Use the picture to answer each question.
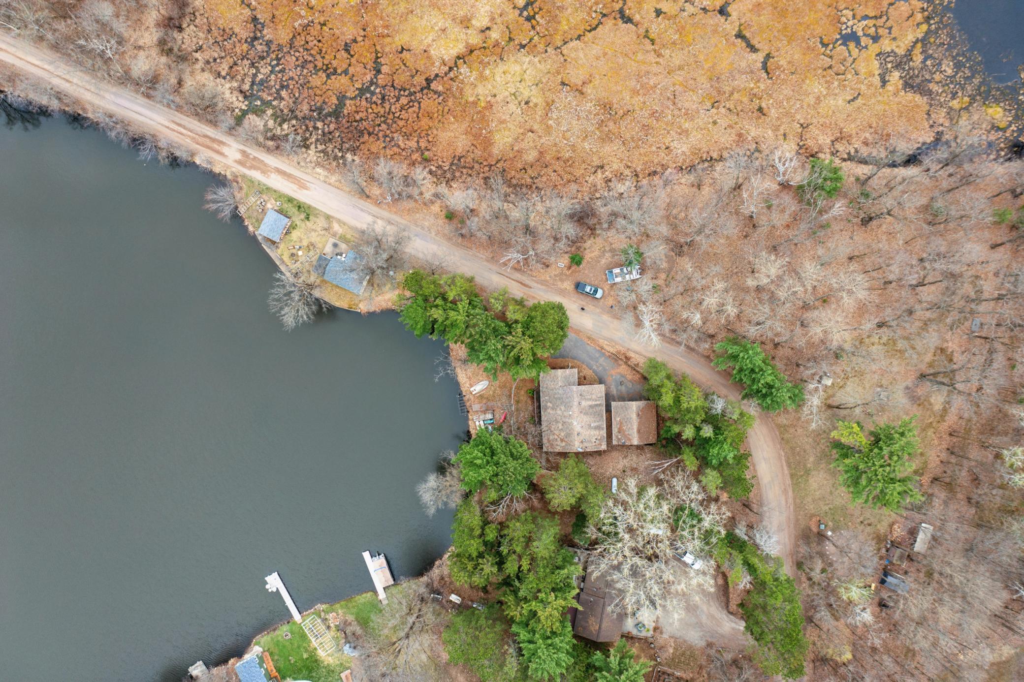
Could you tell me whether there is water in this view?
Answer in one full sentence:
Yes, there's water in this view.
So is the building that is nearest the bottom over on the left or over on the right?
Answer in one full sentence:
The building that is nearest the bottom is on the left side of the image.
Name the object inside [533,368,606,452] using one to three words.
house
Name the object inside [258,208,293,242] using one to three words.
shed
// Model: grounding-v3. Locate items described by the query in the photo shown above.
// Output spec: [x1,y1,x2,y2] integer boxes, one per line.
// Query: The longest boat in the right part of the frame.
[599,264,644,283]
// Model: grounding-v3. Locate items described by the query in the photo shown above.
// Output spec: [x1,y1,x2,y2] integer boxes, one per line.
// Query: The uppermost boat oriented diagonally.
[469,381,488,396]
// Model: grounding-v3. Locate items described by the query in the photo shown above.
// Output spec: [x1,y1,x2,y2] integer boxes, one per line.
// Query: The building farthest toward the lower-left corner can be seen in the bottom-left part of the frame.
[235,649,283,682]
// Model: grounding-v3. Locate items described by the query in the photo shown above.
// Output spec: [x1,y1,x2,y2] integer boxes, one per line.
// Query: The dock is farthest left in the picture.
[266,572,303,627]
